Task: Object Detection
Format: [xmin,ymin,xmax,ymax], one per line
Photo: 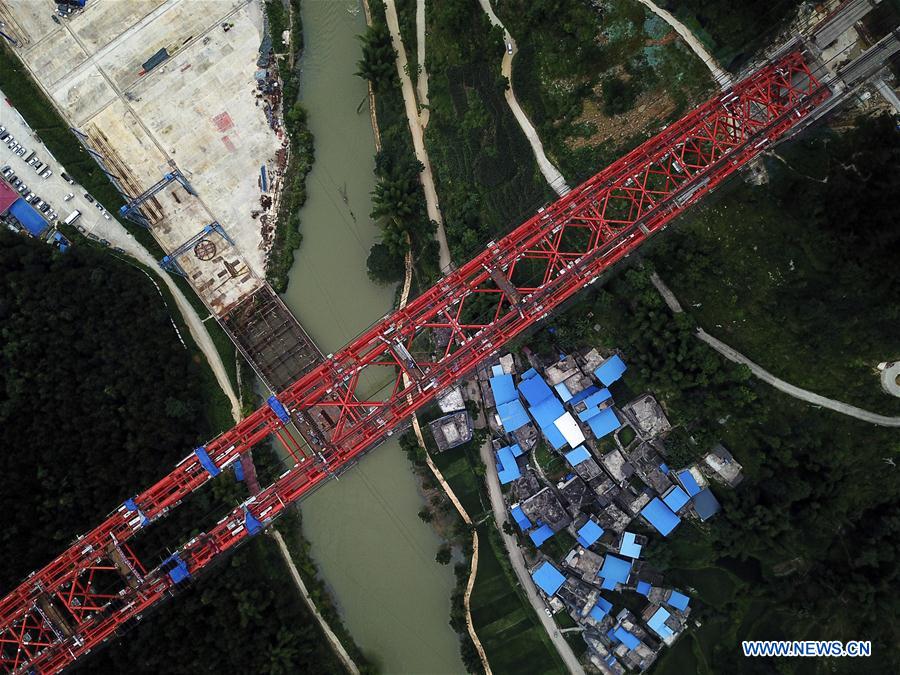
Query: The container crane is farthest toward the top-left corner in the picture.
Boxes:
[119,168,209,233]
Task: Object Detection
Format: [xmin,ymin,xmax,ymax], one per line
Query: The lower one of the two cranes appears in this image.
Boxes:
[156,221,245,283]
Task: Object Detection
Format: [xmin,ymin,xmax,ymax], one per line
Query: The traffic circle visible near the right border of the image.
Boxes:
[877,361,900,399]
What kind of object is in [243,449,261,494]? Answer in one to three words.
shed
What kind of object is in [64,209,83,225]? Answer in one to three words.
vehicle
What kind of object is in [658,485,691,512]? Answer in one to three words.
house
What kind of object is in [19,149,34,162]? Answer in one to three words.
vehicle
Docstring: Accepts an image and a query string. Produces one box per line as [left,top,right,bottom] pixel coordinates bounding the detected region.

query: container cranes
[119,168,209,233]
[156,221,245,283]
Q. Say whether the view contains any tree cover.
Yes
